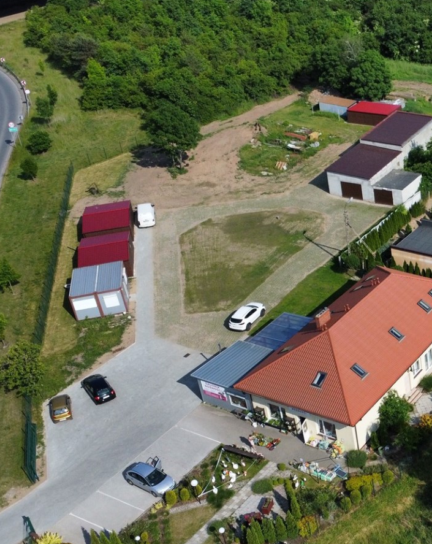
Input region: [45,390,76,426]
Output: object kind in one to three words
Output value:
car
